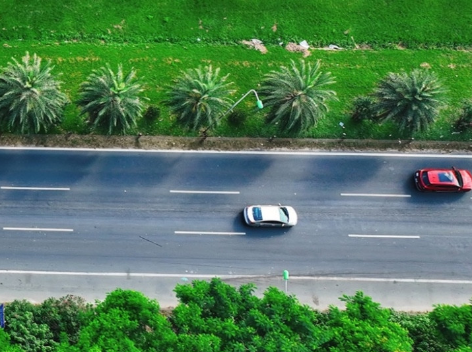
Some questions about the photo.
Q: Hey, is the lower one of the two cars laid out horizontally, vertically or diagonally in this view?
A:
horizontally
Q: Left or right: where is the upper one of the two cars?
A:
right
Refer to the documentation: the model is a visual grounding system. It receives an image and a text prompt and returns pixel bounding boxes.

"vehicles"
[412,166,472,192]
[241,202,297,228]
